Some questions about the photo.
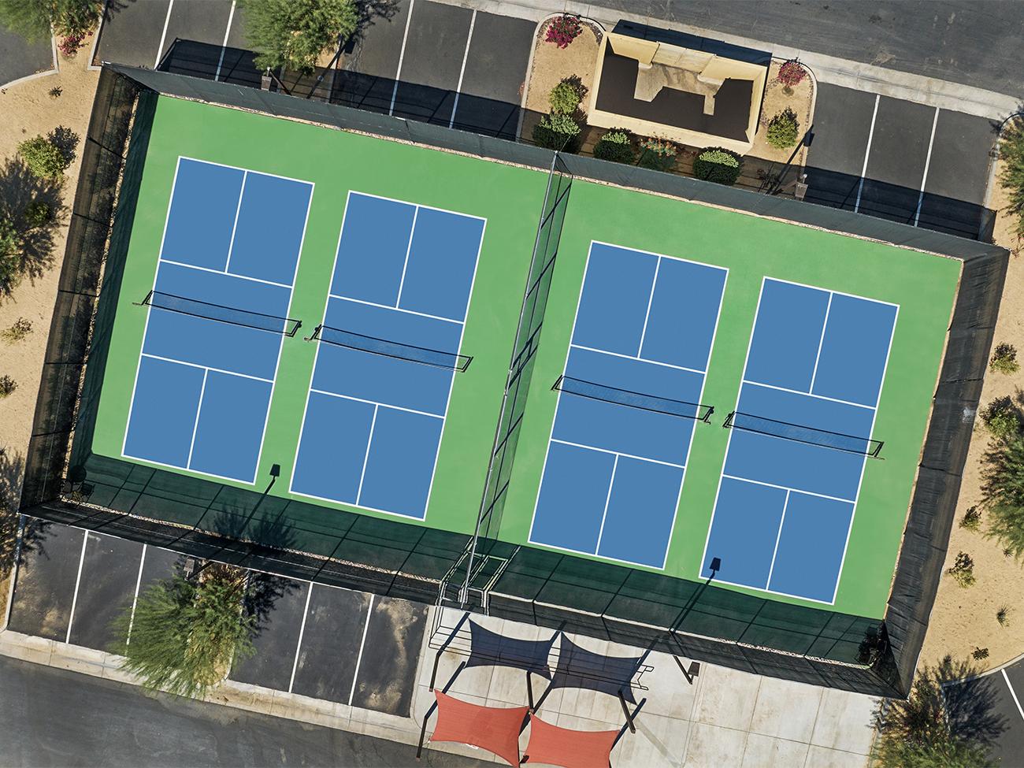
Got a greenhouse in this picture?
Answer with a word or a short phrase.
No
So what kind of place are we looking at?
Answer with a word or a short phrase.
sports ground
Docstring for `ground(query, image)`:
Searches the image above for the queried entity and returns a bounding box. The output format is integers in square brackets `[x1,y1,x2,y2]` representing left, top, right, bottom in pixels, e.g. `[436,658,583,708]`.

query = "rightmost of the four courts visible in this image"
[671,220,960,666]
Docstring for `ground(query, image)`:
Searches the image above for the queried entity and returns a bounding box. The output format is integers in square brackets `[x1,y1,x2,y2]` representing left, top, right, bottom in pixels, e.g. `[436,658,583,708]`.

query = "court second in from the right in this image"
[468,178,757,624]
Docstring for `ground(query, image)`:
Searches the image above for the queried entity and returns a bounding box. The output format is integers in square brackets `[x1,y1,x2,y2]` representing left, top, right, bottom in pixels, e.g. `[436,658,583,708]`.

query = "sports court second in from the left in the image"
[263,135,550,582]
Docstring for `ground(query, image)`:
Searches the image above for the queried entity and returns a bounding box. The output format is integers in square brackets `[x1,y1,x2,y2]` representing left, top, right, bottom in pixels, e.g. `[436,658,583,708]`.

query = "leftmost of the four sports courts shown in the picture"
[69,94,343,539]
